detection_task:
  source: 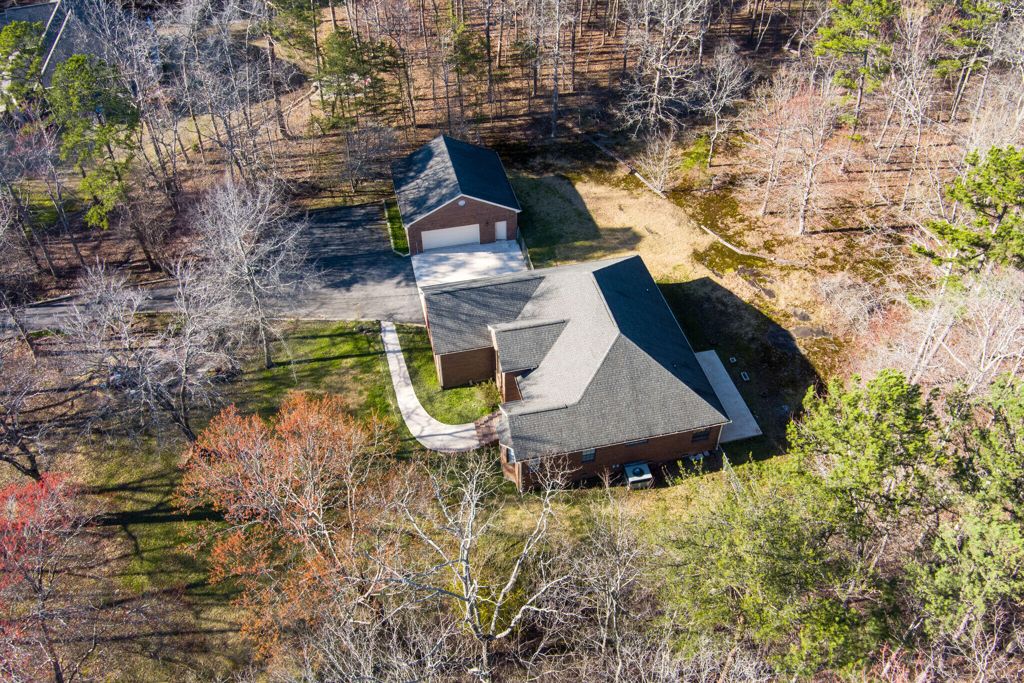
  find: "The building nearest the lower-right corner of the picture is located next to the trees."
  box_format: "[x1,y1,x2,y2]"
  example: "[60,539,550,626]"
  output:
[419,253,734,498]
